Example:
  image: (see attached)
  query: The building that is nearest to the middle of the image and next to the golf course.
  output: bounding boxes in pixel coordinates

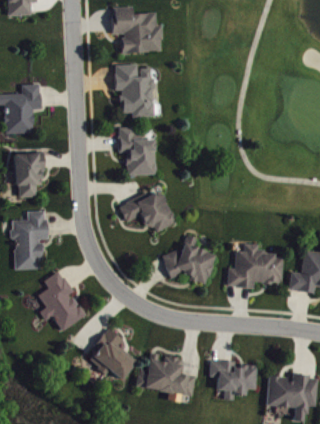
[120,191,177,234]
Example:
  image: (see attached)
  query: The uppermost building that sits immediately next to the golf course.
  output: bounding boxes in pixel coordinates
[114,7,164,54]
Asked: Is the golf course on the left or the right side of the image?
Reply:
right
